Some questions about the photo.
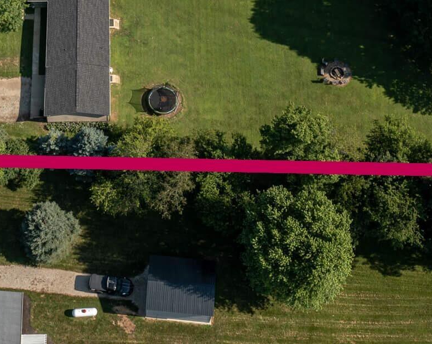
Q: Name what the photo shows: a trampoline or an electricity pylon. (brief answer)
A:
trampoline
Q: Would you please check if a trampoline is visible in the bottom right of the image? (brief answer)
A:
No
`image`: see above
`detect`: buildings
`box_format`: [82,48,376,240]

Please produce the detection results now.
[145,255,215,325]
[27,0,121,124]
[0,292,49,344]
